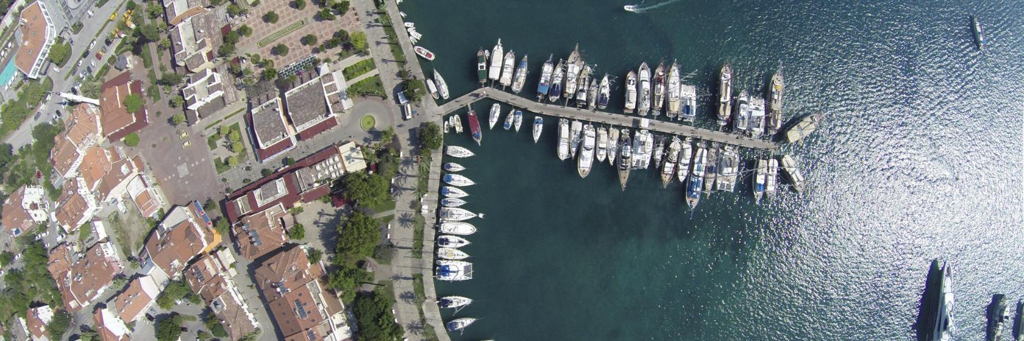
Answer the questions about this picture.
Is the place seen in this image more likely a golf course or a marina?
marina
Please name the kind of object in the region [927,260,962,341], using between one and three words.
boat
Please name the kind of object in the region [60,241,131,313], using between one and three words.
building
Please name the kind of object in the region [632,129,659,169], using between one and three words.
boat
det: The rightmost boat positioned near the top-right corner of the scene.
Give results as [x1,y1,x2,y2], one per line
[970,14,988,53]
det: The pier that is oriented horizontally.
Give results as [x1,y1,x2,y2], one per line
[437,87,778,151]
